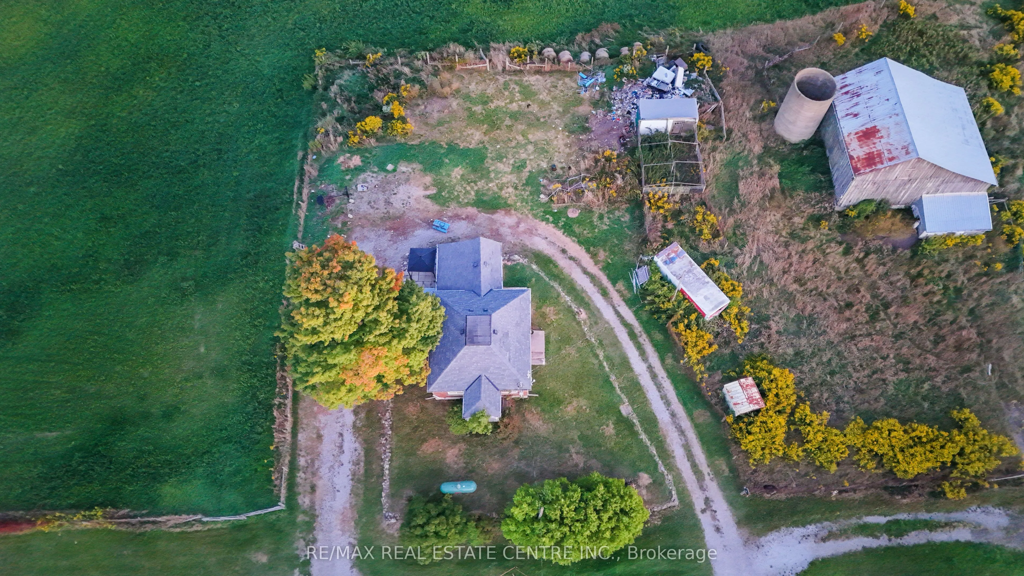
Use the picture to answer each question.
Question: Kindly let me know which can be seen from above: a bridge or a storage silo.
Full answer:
The image shows a storage silo.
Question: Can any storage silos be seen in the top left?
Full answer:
No, no storage silo appears in the top left.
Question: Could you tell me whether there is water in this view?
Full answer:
No, the scene doesn't show any water.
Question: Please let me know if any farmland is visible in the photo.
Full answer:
Yes, farmland can be seen from above here.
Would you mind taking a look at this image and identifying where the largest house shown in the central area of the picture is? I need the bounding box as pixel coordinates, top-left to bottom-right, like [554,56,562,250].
[424,237,545,422]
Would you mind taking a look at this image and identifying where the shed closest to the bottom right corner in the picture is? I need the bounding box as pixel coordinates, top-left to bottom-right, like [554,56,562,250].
[722,377,765,416]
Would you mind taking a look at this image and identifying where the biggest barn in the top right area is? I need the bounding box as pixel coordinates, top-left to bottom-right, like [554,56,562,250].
[820,56,998,208]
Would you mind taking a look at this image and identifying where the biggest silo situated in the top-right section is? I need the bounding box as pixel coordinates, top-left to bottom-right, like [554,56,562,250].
[773,69,837,142]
